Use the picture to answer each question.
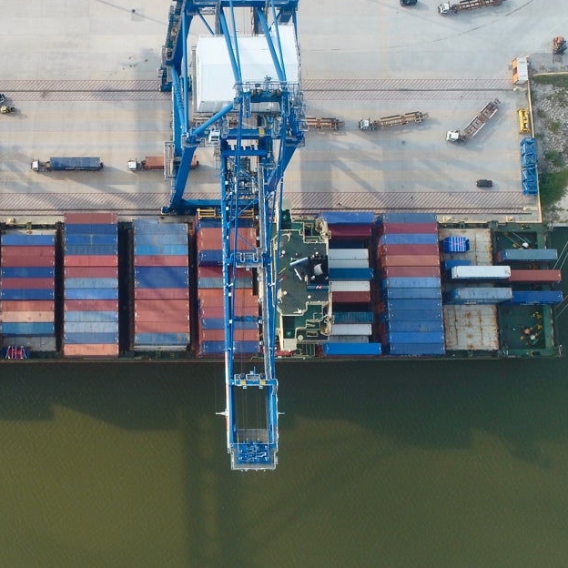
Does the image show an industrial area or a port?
port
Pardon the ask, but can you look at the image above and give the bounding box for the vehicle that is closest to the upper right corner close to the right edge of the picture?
[551,34,568,61]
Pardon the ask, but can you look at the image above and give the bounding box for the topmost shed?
[507,53,532,83]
